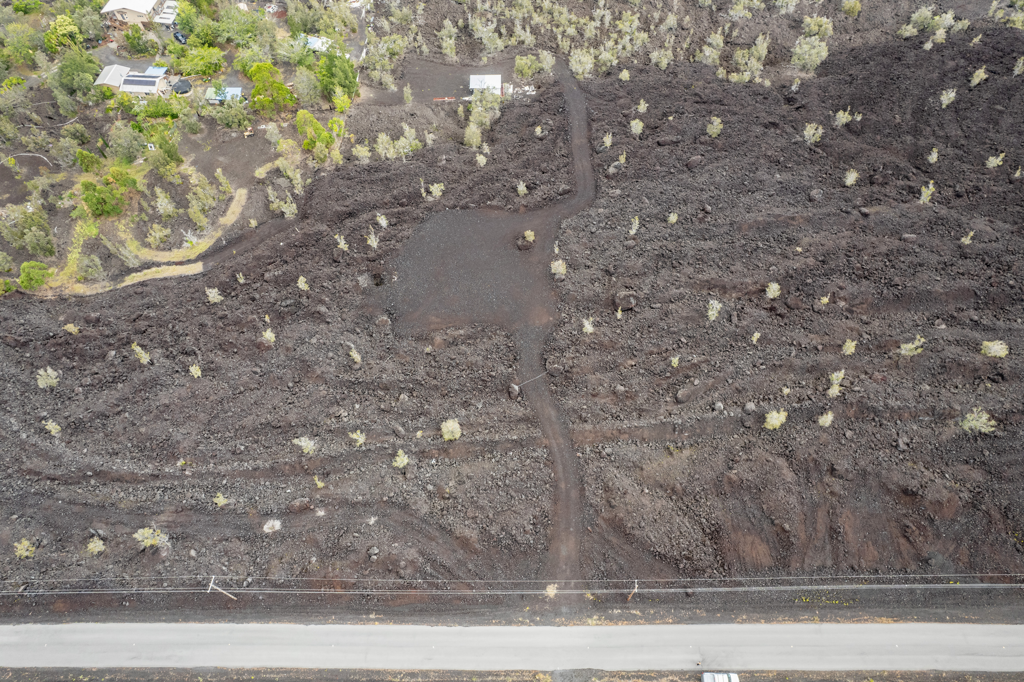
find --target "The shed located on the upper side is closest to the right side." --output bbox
[470,75,501,97]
